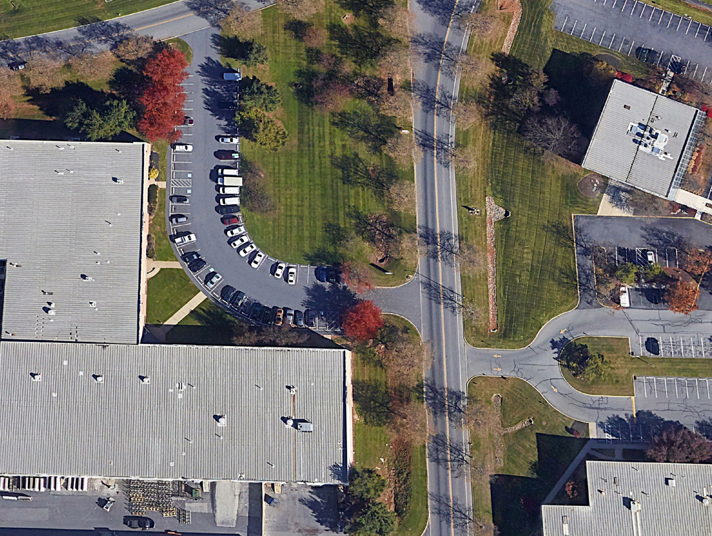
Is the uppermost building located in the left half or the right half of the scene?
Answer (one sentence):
You can find the uppermost building on the right side of the picture.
